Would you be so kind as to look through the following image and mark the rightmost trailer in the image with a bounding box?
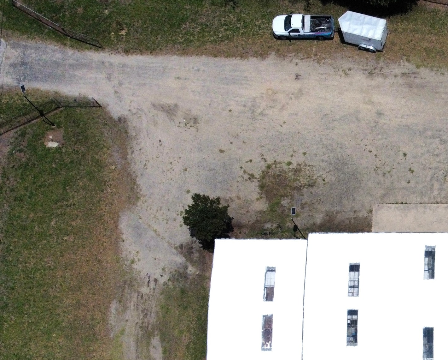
[337,11,389,50]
